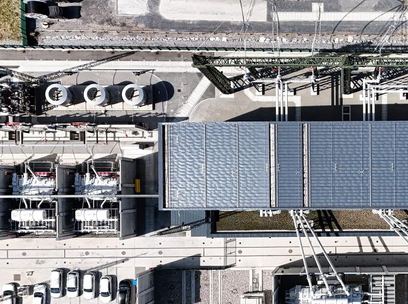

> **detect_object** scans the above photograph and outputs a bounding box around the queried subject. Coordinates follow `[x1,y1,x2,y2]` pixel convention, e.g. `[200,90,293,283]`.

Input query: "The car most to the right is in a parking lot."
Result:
[117,280,131,304]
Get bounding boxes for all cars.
[32,283,47,304]
[99,275,114,302]
[83,272,98,300]
[117,280,131,304]
[2,282,17,304]
[50,268,65,298]
[66,270,80,297]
